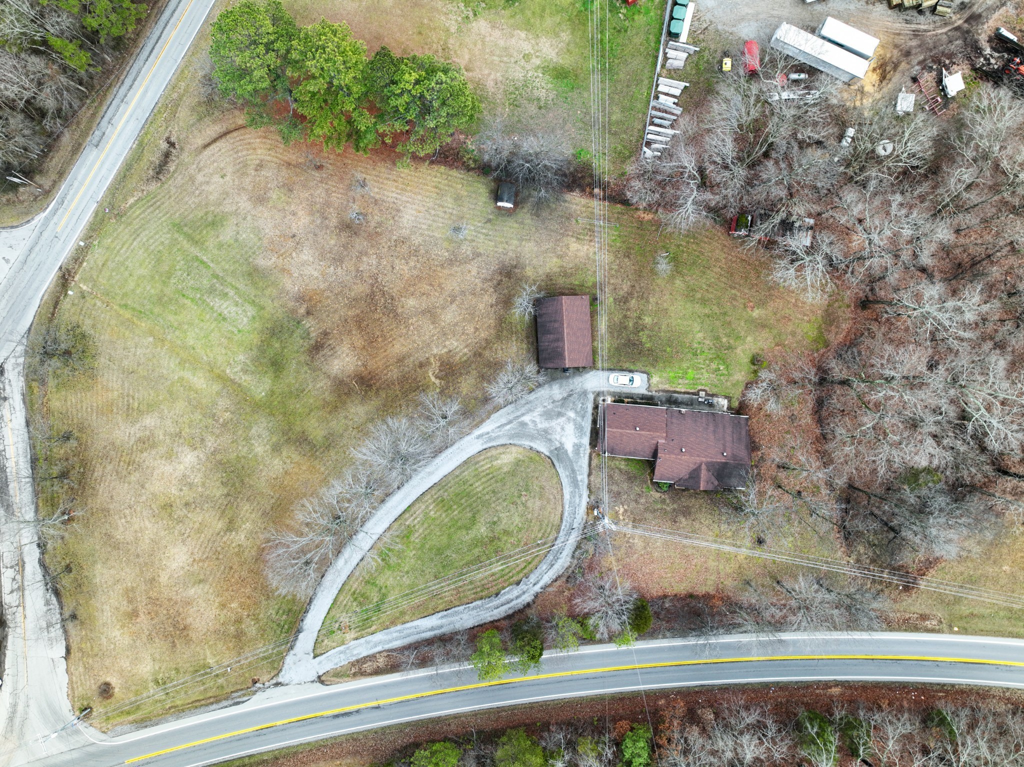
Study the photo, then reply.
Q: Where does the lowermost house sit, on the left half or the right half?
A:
right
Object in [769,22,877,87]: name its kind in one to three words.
trailer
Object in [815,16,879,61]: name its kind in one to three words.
trailer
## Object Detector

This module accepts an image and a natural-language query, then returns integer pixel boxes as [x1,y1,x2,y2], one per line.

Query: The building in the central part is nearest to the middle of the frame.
[536,296,593,369]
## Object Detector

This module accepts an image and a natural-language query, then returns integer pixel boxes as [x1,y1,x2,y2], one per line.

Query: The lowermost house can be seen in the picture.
[596,403,751,491]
